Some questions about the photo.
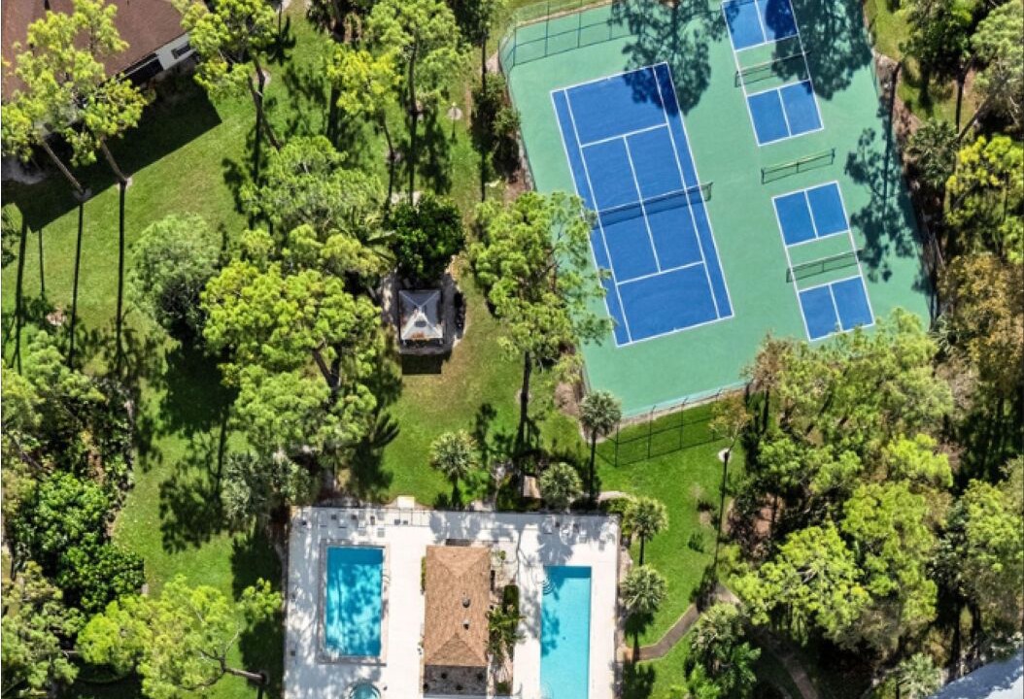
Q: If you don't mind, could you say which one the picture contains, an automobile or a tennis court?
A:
tennis court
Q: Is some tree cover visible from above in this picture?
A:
Yes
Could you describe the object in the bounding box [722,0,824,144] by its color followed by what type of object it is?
blue sports court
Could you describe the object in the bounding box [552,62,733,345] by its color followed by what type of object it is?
blue tennis court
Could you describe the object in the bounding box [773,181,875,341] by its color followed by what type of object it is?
blue sports court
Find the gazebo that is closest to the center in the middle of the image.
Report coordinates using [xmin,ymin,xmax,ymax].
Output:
[399,290,443,344]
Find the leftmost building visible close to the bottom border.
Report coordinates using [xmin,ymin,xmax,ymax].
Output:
[423,538,491,668]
